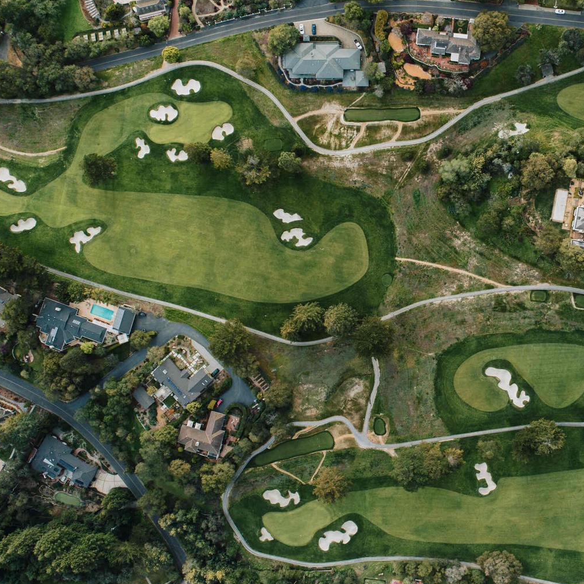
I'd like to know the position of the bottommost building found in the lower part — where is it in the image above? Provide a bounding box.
[28,434,101,485]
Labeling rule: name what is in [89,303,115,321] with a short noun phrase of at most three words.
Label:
swimming pool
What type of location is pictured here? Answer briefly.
golf course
